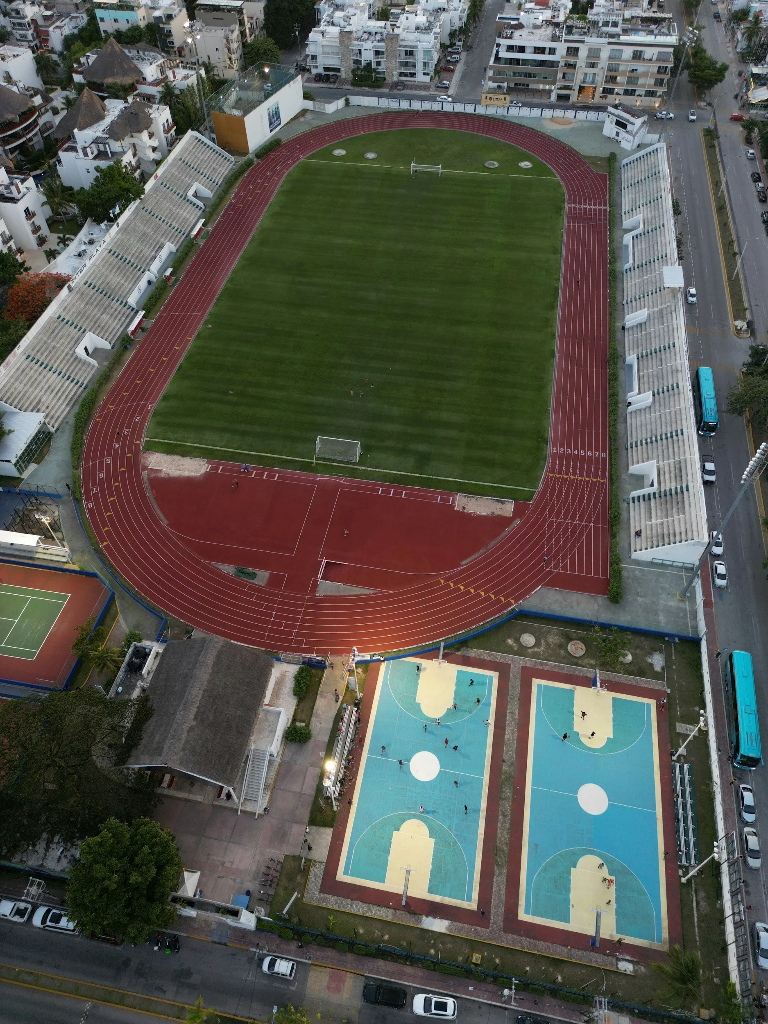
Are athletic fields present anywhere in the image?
Yes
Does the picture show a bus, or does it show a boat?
bus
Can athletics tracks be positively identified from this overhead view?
Yes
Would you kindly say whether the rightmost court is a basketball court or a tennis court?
basketball court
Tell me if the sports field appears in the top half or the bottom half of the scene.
top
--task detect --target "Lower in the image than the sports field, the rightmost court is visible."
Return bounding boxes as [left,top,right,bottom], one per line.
[502,666,682,964]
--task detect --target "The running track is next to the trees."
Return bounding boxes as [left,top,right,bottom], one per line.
[80,111,610,656]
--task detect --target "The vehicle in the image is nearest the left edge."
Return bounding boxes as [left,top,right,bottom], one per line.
[0,897,41,925]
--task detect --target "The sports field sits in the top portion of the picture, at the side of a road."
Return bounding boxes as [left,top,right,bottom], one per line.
[143,128,566,502]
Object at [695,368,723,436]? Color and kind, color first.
blue bus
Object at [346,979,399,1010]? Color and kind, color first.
black vehicle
